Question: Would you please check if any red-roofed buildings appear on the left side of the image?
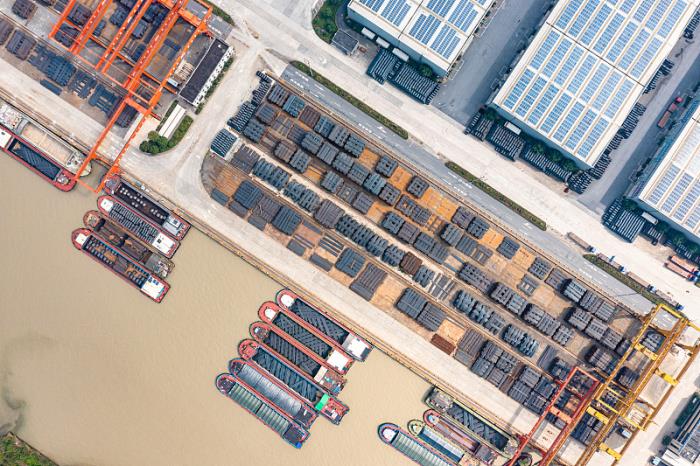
No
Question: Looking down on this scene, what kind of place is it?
port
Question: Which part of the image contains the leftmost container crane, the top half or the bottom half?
top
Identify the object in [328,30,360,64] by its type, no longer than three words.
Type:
shed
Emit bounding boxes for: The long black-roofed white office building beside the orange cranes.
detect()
[178,39,234,108]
